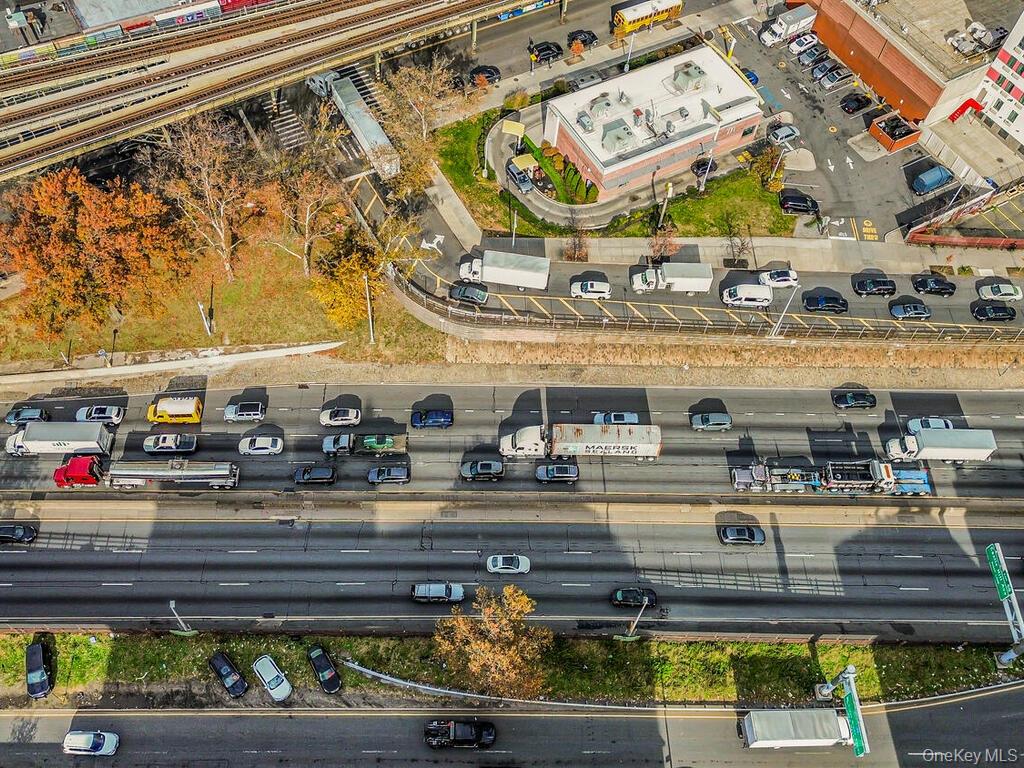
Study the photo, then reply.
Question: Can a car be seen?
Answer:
Yes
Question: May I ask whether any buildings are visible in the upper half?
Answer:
Yes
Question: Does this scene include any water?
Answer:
No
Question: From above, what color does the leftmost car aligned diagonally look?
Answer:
black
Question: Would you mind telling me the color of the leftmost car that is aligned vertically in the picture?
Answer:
black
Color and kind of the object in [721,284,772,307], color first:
white vehicle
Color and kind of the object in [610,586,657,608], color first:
black car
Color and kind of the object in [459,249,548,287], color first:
white truck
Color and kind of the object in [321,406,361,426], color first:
white car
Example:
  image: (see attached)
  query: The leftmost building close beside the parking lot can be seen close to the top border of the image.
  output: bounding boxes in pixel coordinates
[542,38,768,204]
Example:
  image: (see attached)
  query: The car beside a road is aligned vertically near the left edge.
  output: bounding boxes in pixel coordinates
[23,639,51,699]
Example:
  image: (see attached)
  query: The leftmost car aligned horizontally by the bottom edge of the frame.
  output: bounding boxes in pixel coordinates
[62,730,121,755]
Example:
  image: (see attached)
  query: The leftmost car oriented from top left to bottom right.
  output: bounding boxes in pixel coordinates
[207,649,249,699]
